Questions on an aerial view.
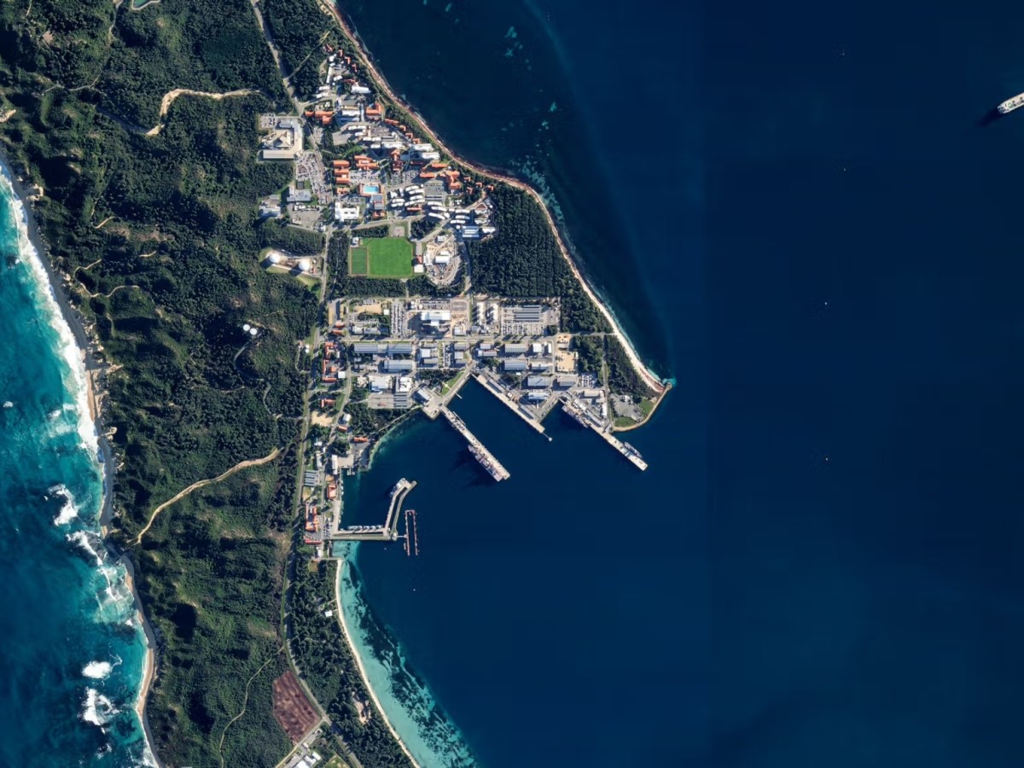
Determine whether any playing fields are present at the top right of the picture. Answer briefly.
No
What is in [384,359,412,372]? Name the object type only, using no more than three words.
building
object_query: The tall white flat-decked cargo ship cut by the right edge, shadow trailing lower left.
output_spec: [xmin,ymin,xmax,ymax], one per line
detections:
[1000,93,1024,113]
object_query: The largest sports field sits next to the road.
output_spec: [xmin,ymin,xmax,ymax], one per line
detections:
[368,237,413,277]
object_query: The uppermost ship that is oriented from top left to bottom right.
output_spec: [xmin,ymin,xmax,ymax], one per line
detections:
[562,406,589,428]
